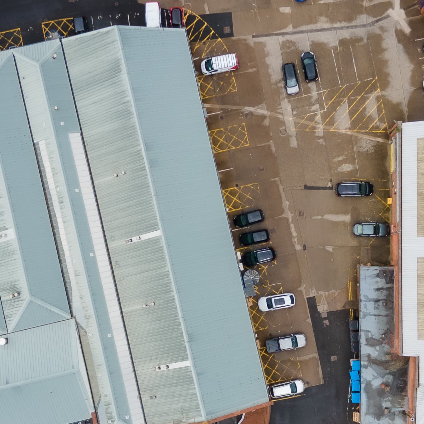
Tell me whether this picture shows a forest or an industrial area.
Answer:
industrial area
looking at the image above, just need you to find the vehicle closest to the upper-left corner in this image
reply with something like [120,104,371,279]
[71,16,89,34]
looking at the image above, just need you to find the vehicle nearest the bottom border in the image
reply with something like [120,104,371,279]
[269,379,305,398]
